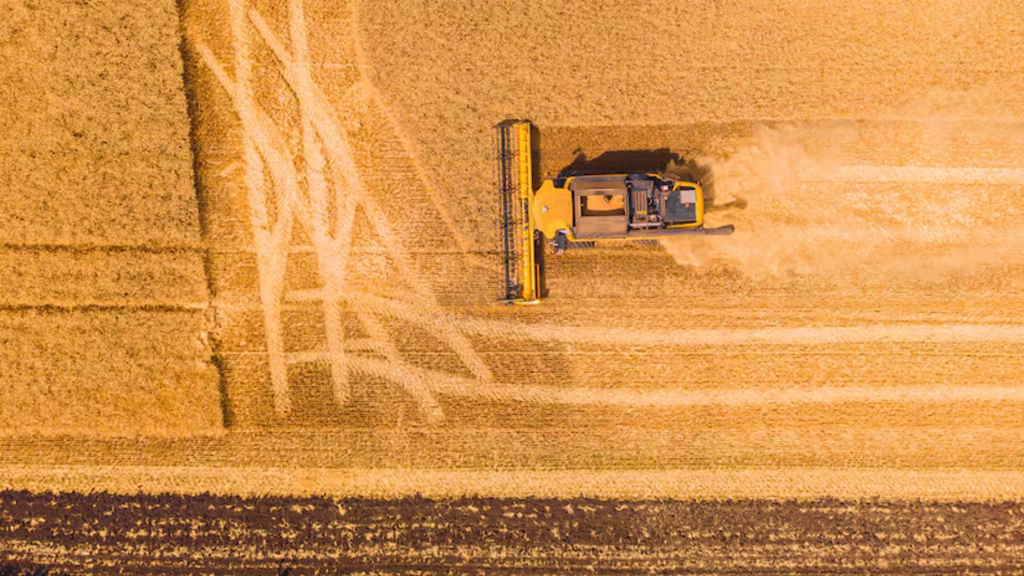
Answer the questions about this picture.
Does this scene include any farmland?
Yes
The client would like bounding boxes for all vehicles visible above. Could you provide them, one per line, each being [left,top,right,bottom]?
[492,119,736,306]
